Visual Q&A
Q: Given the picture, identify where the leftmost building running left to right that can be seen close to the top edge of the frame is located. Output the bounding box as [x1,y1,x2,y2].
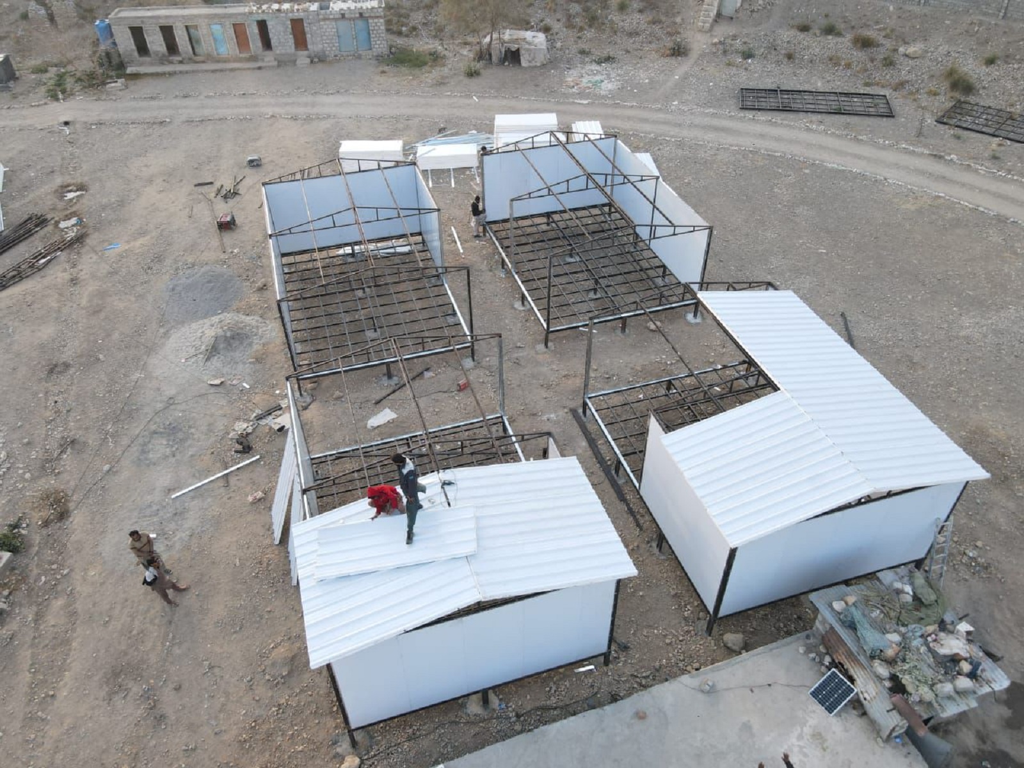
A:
[106,0,389,75]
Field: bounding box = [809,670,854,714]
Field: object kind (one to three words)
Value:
solar panel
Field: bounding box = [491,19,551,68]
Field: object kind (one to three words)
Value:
shed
